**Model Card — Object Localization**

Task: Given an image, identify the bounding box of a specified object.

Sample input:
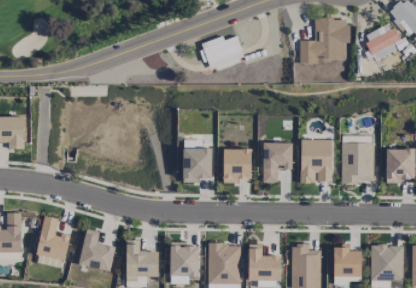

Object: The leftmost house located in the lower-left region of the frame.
[0,213,22,266]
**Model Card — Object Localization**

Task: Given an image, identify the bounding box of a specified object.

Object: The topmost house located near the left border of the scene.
[0,116,25,150]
